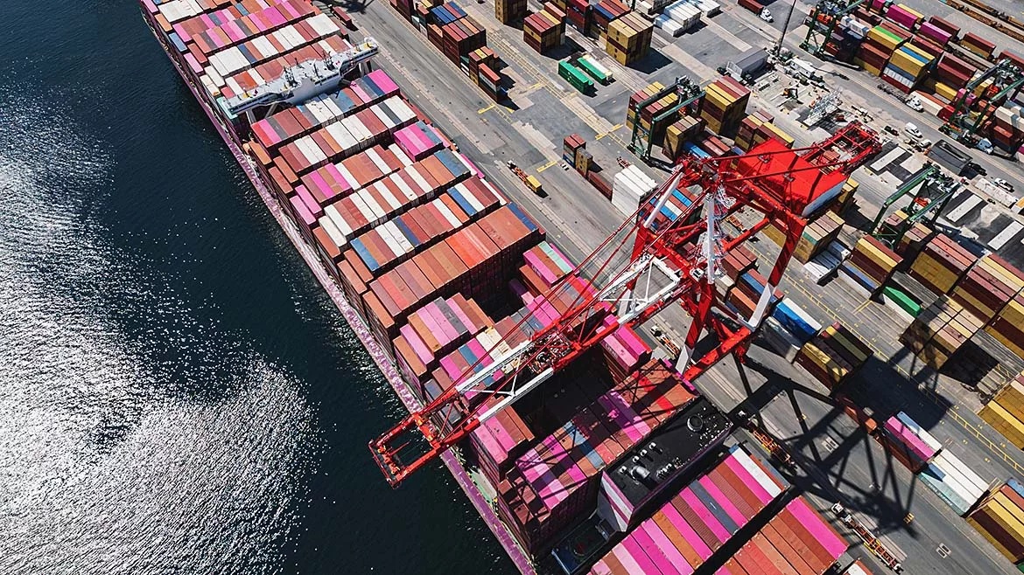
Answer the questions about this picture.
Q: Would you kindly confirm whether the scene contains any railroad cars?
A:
Yes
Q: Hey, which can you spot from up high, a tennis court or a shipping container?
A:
shipping container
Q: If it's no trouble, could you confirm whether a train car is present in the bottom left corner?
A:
No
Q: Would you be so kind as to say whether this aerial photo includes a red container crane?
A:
Yes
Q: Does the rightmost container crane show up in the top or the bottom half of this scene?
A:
top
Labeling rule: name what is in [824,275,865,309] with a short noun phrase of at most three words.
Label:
shipping container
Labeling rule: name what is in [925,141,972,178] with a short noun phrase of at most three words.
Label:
shed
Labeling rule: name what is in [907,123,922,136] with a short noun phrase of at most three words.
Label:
vehicle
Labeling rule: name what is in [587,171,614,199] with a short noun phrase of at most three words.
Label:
shipping container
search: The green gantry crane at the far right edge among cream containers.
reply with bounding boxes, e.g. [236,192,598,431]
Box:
[939,64,1024,143]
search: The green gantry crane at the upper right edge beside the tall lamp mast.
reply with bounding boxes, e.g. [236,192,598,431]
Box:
[801,0,872,56]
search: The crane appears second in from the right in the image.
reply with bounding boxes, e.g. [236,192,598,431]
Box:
[860,169,960,249]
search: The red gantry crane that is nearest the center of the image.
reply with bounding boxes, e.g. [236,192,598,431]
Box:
[356,118,891,490]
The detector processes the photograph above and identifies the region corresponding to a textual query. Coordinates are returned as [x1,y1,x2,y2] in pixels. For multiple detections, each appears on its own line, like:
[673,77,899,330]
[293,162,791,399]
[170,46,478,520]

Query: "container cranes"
[356,118,891,490]
[628,80,705,159]
[939,64,1024,143]
[860,169,960,249]
[801,0,872,56]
